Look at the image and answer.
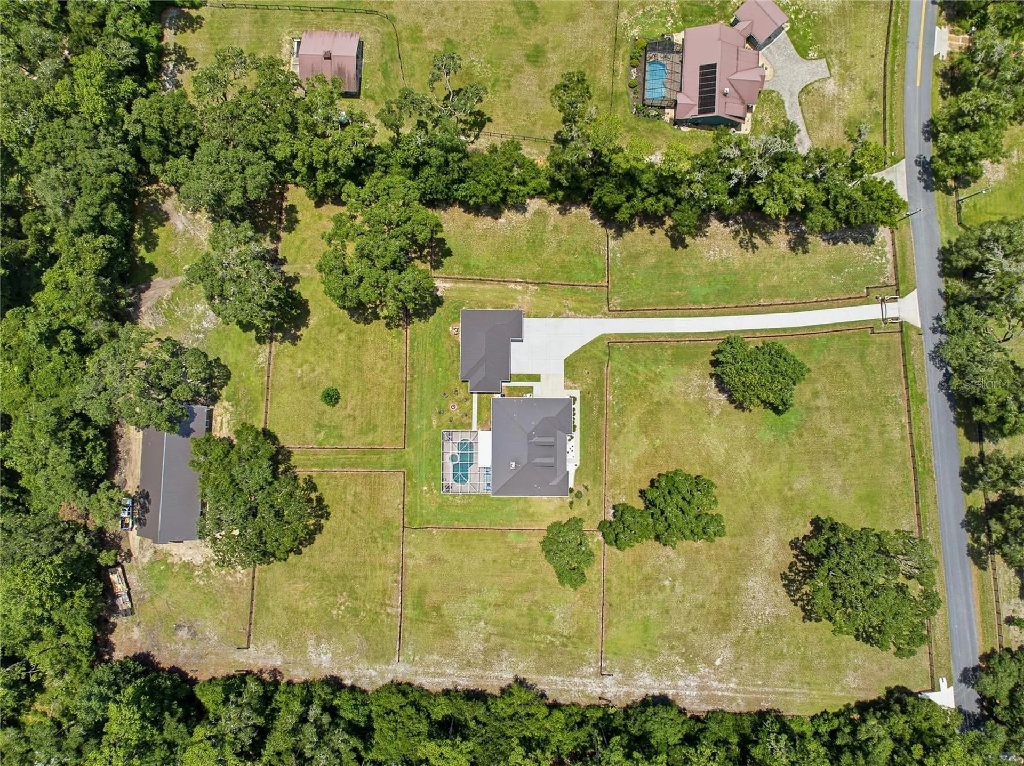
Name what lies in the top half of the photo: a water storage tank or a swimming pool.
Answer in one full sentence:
What appears in the top half of the photo is a swimming pool.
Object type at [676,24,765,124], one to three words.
house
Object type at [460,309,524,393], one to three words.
building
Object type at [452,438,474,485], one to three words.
swimming pool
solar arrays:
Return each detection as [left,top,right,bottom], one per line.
[698,63,716,113]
